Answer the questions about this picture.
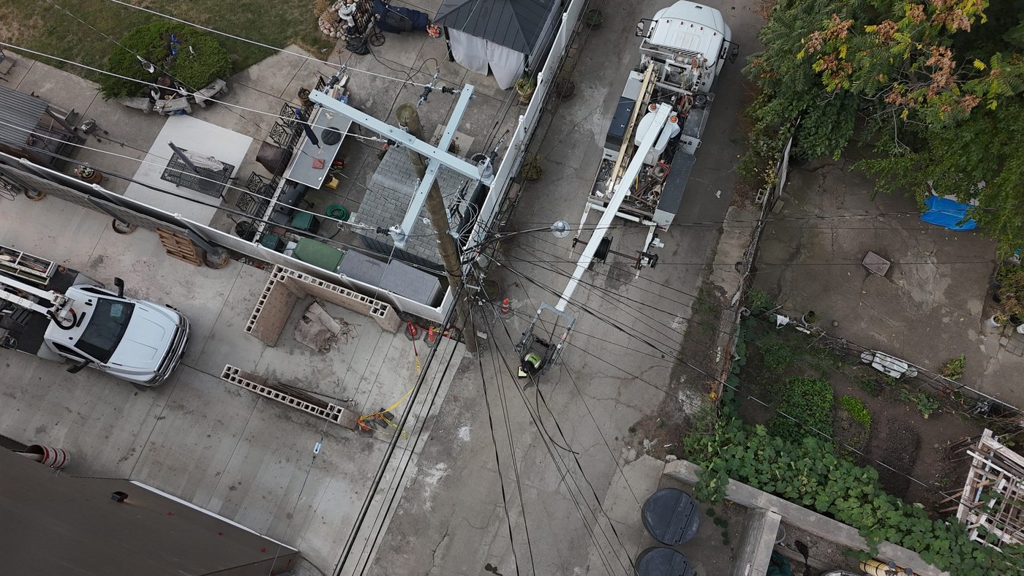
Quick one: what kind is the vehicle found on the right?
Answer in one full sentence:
The vehicle found on the right can be classified as a truck.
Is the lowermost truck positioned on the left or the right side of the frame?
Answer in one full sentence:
The lowermost truck appears in the left half of the scene.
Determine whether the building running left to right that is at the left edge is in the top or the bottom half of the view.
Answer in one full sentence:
It is in the bottom half that the building running left to right that is at the left edge appears.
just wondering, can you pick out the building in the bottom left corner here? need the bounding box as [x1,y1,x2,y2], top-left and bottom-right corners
[0,427,299,576]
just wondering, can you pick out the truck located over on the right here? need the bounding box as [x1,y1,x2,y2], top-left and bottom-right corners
[515,4,740,389]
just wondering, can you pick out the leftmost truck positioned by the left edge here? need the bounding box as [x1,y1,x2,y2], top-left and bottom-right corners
[0,242,193,392]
